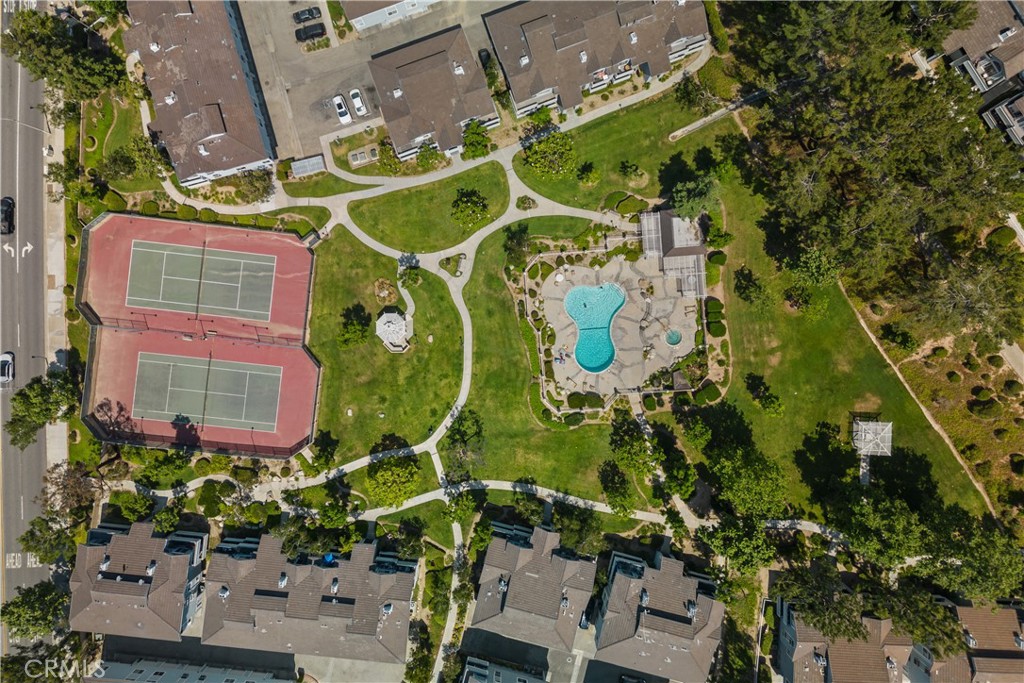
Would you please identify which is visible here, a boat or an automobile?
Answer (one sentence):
There is an automobile in the scene.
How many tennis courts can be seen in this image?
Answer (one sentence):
There are 2 tennis courts in the image.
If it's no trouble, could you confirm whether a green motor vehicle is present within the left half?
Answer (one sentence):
No, within the left half there is no green motor vehicle.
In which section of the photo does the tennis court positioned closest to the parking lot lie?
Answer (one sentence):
Look in the left portion of the view to spot the tennis court positioned closest to the parking lot.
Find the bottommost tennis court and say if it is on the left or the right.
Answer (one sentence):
It is on the left.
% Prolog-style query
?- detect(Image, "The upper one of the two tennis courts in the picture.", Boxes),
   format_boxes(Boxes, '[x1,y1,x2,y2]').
[85,216,310,345]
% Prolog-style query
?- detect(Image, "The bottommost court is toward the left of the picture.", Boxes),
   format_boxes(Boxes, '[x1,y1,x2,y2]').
[95,326,314,455]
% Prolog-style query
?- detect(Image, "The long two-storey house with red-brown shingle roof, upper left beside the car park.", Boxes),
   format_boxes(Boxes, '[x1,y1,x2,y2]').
[122,0,275,197]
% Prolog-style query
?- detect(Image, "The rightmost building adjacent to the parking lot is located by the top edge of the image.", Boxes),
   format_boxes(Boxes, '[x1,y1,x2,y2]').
[482,0,707,120]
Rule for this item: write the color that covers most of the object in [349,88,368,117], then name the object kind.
white car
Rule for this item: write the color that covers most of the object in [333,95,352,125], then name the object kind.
white car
